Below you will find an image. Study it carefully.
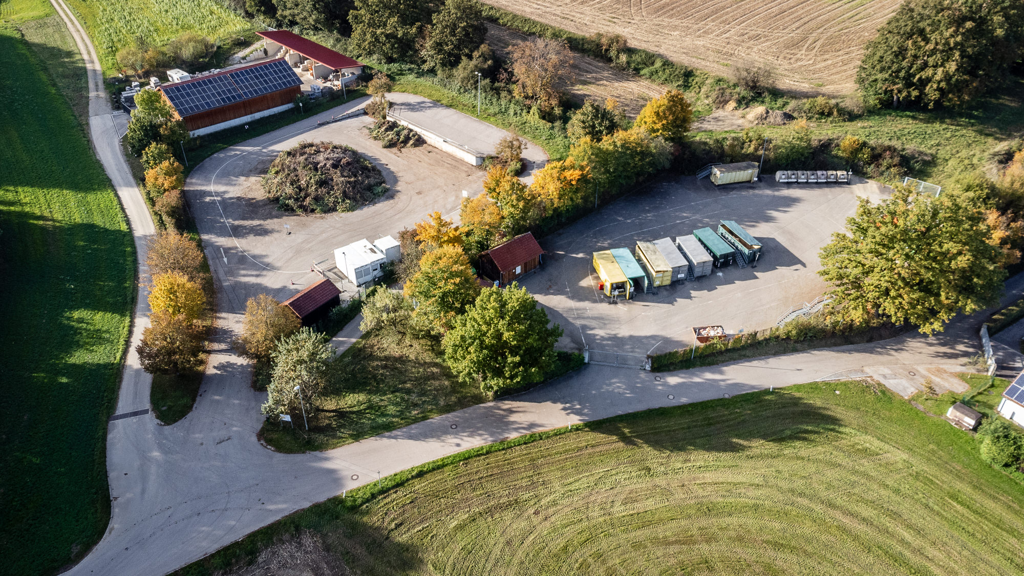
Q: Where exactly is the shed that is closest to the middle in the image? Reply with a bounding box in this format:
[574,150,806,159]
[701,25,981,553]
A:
[480,232,544,285]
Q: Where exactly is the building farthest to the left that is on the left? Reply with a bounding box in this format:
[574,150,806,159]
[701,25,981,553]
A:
[152,57,303,135]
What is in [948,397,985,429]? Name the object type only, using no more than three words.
shed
